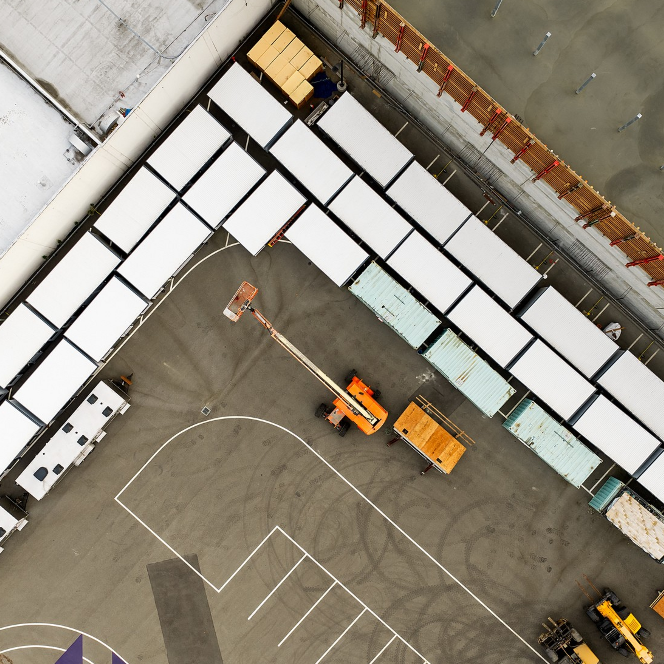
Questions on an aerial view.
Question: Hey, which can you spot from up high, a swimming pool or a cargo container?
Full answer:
Visible in the photo is a cargo container.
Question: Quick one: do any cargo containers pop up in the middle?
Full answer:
Yes, a cargo container is visible in the middle.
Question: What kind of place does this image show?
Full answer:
This looks like an industrial area.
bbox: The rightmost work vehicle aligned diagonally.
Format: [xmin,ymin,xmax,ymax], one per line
[575,575,653,664]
